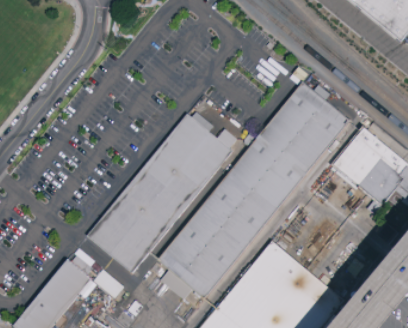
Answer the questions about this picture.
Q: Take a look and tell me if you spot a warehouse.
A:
Yes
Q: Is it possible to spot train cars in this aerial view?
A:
Yes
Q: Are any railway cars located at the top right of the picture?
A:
Yes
